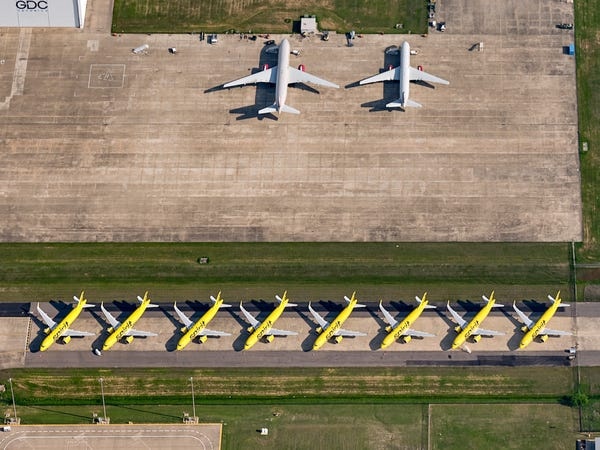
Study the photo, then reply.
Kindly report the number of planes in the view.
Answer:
ten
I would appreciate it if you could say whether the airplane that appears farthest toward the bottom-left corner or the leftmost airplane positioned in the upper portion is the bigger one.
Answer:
the leftmost airplane positioned in the upper portion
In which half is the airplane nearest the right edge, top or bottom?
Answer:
bottom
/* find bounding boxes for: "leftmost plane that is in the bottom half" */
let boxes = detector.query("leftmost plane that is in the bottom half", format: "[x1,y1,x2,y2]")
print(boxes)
[38,292,96,350]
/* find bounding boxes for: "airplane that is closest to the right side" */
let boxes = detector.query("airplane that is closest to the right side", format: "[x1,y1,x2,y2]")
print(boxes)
[513,291,575,349]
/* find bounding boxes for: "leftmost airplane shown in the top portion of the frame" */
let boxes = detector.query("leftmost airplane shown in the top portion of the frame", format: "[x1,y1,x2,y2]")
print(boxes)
[223,37,339,117]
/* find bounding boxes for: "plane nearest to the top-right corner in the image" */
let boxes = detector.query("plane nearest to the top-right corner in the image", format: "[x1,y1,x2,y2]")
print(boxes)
[359,41,450,110]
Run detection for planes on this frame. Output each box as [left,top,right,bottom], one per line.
[446,291,507,349]
[174,292,233,350]
[309,292,369,350]
[513,291,575,349]
[101,292,159,349]
[379,292,437,349]
[223,37,339,117]
[359,41,450,110]
[38,292,96,350]
[240,291,300,349]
